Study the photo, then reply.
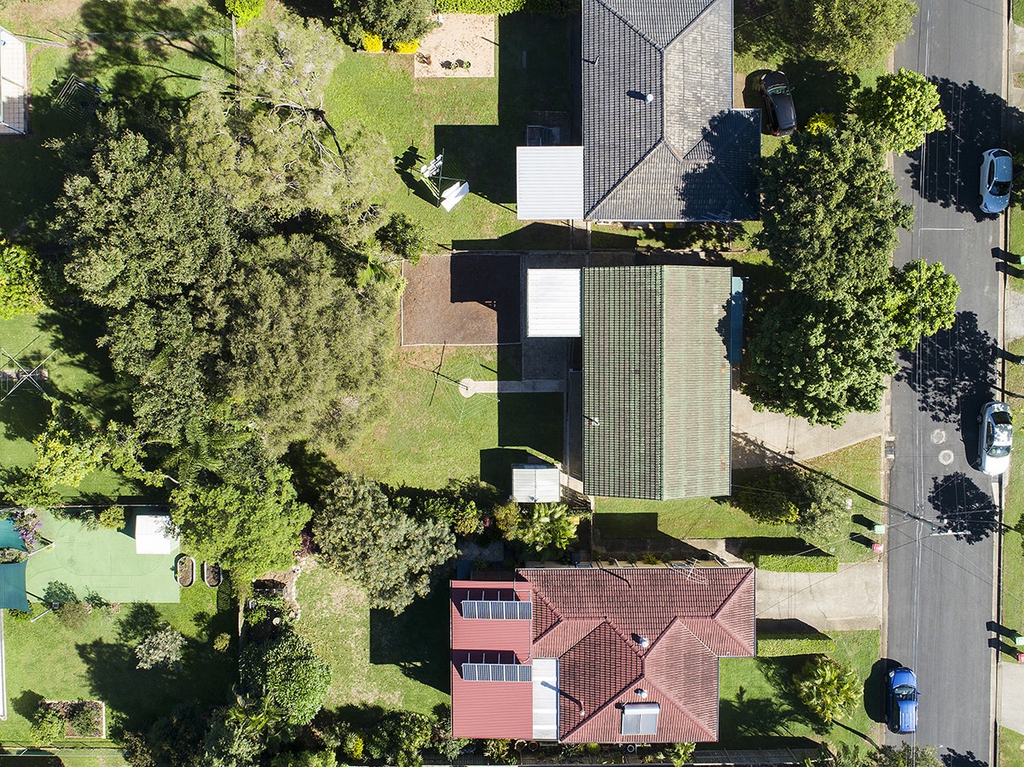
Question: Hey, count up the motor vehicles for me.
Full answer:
In total, there are 4 motor vehicles in the scene.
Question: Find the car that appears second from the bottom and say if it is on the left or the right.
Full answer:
It is on the right.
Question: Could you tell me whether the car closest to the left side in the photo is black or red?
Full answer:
From above, the car closest to the left side appears black.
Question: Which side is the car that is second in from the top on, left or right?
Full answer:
It is on the right.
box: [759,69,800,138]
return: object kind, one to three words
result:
car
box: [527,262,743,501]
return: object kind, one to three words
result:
building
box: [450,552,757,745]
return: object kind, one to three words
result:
house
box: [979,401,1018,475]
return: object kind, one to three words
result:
car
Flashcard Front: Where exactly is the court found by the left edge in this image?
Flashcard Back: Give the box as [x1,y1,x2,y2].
[18,509,179,603]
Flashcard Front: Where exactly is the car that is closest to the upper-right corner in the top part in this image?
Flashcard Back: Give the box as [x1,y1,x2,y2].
[981,149,1020,214]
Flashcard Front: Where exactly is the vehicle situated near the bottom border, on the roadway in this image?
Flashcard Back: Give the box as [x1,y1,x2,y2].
[889,667,926,733]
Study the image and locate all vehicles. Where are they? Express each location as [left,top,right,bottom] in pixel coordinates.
[889,667,926,733]
[979,401,1018,475]
[759,69,800,138]
[981,149,1020,214]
